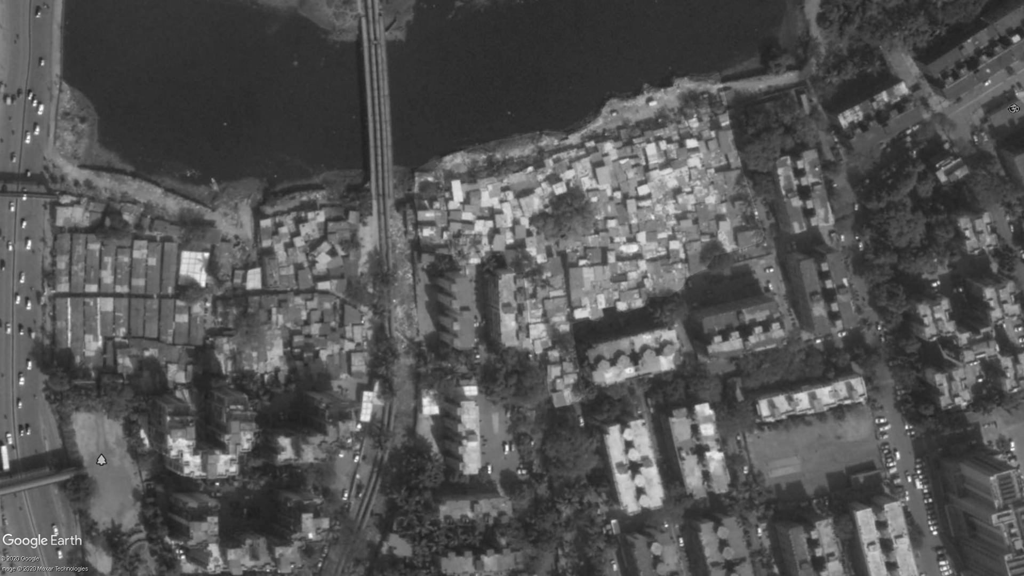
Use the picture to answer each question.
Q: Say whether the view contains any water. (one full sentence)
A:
Yes, water shows up in the scene.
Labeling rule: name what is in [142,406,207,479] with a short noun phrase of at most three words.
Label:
building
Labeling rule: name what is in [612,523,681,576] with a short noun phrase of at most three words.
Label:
building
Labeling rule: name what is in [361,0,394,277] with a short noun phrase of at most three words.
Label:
bridge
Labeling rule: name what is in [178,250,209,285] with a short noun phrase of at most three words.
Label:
shed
